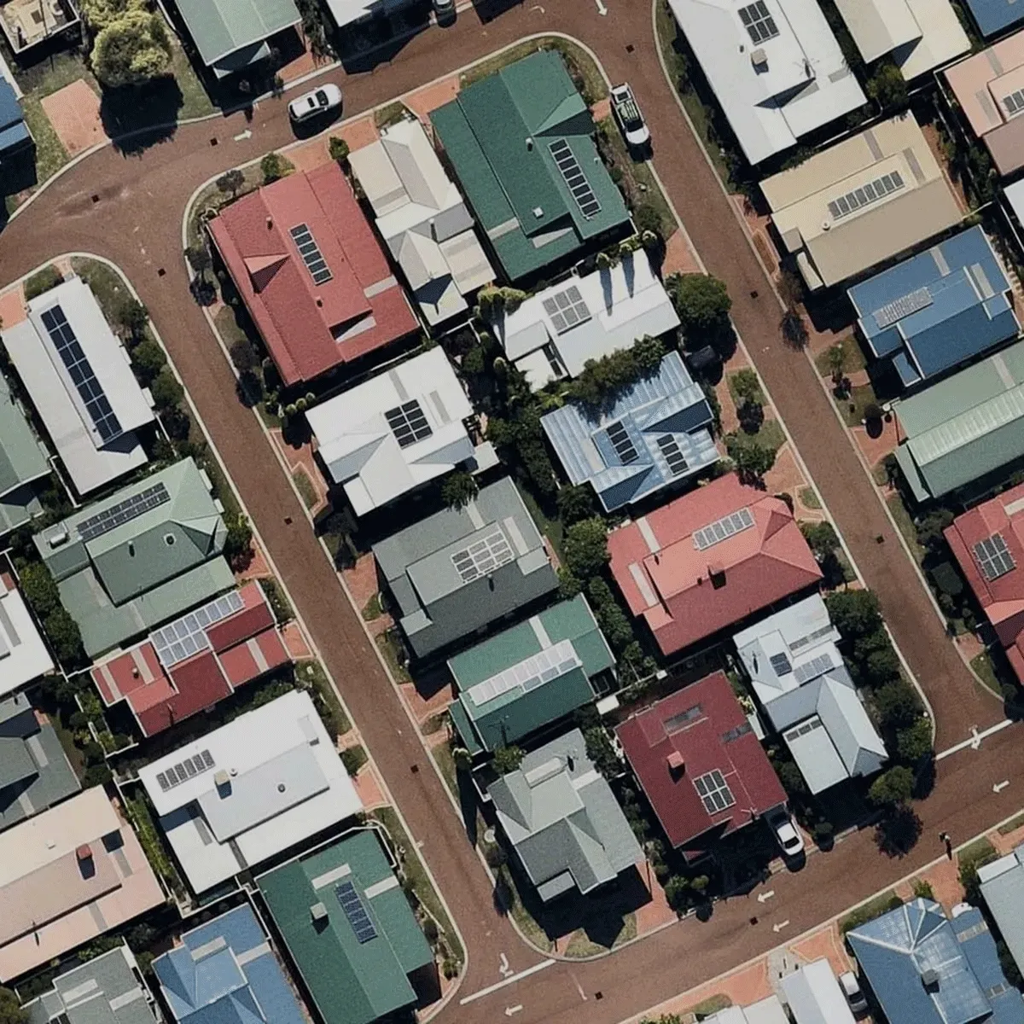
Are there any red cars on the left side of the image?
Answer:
No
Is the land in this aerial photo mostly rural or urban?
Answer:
urban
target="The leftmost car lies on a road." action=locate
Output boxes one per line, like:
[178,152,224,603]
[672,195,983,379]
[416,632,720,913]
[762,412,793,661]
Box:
[289,84,340,121]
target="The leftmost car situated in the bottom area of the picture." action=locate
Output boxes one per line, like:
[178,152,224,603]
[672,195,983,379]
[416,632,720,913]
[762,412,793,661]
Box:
[765,803,804,857]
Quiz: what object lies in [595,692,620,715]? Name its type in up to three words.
shed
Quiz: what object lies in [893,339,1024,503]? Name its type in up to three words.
house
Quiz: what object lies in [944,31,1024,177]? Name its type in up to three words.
house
